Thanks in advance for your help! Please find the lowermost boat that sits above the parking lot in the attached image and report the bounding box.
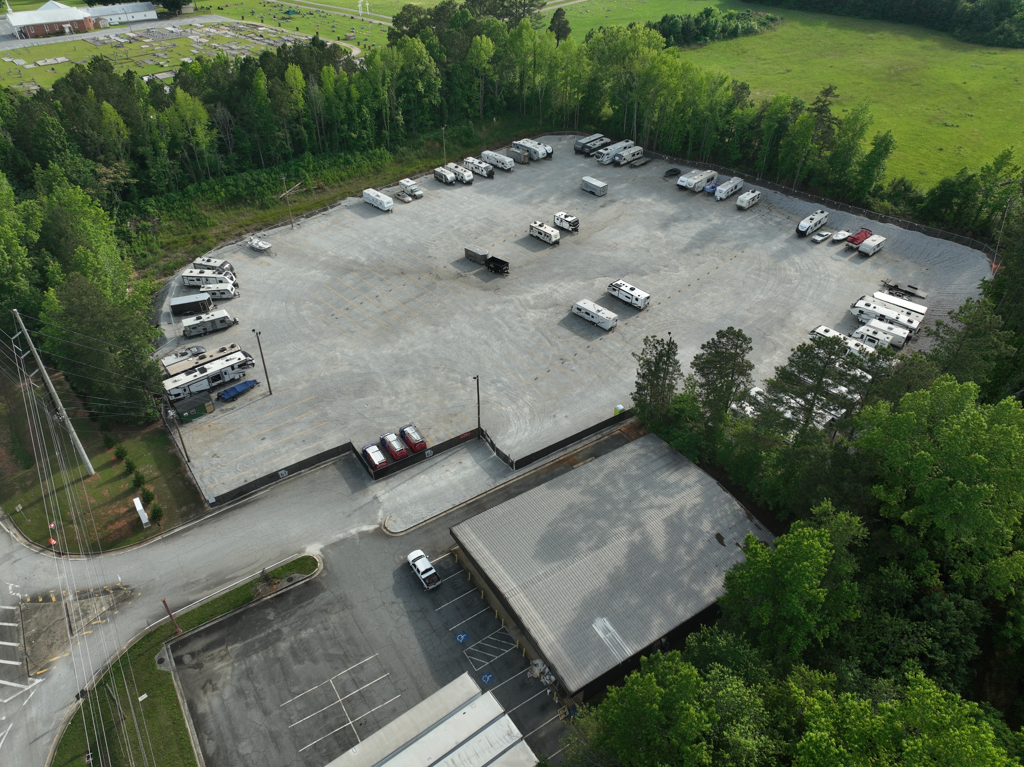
[217,378,263,401]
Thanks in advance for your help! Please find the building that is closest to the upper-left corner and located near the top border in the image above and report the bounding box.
[3,0,91,39]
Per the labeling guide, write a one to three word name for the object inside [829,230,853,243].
boat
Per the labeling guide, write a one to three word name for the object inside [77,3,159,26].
building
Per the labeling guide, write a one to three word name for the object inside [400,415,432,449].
van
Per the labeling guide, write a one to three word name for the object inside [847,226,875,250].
boat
